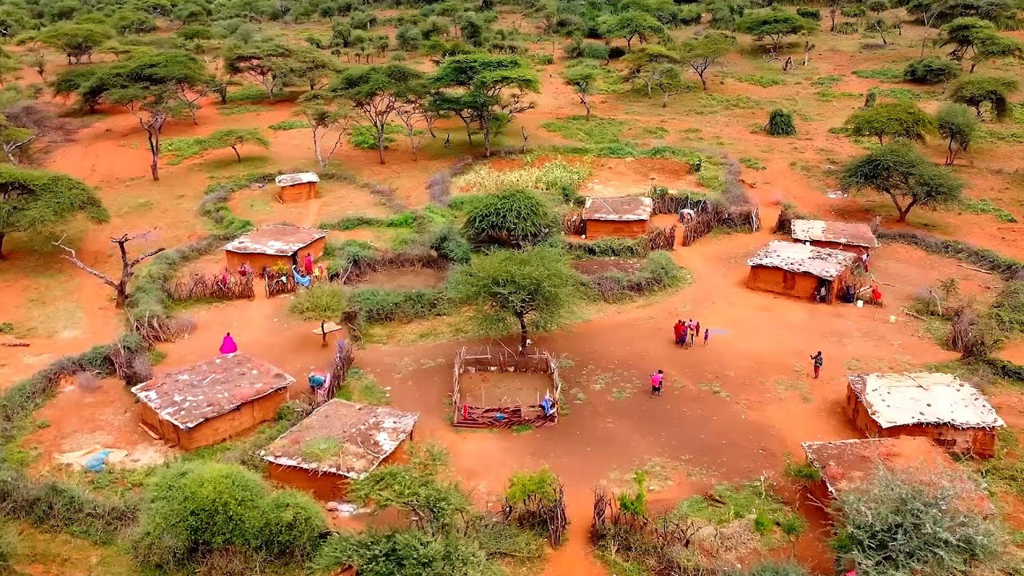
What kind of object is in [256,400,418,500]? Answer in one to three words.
shed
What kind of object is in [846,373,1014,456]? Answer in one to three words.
shed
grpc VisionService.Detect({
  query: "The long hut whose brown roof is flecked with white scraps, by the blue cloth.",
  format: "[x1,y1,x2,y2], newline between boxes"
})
[132,357,297,453]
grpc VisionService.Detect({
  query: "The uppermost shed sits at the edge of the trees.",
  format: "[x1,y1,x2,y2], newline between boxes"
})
[275,174,321,205]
